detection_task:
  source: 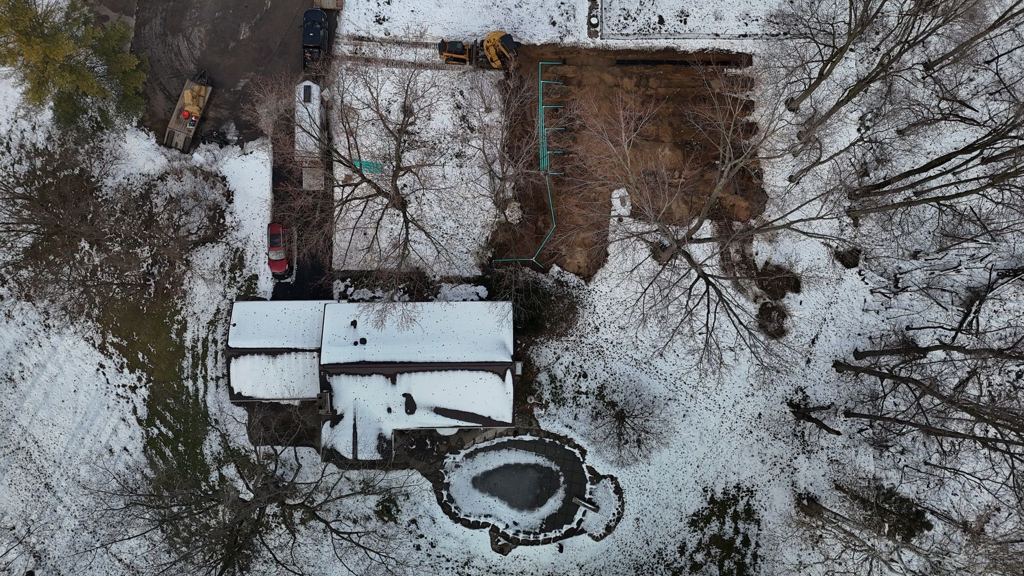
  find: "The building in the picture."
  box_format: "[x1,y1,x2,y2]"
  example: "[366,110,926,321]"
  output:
[225,299,513,461]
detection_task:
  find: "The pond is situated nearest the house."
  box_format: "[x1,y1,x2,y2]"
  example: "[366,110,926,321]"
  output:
[442,435,590,538]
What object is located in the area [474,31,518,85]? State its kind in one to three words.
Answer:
work vehicle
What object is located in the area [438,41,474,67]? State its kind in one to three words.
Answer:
work vehicle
